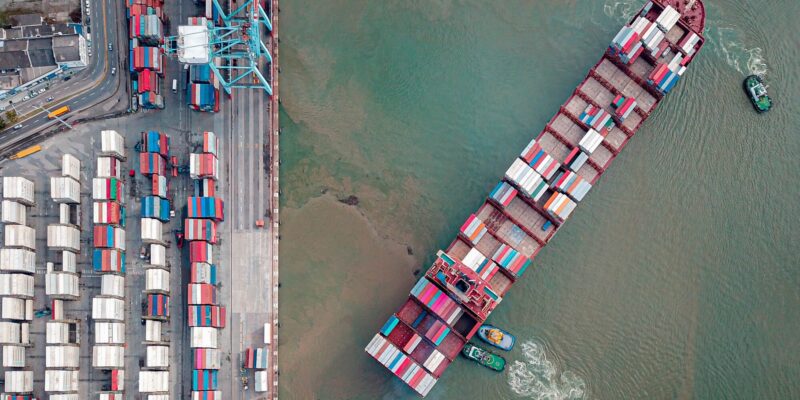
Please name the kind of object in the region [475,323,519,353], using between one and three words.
boat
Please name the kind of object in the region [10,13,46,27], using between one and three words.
building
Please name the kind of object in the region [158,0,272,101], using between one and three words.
container crane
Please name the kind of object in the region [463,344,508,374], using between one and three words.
boat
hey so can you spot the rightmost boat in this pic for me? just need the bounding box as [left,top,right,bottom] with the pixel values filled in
[743,70,777,114]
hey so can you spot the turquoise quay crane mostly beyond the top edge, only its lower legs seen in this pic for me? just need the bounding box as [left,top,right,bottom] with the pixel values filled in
[212,0,272,37]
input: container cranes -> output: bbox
[158,0,272,101]
[212,0,272,37]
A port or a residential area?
port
